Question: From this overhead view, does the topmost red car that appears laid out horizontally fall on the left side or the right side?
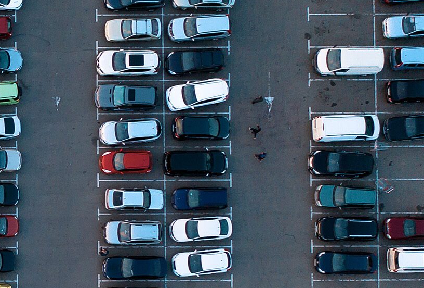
left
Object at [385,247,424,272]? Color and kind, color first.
white car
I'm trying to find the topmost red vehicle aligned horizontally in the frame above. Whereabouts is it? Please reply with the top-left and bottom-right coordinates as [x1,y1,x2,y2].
[99,148,155,174]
